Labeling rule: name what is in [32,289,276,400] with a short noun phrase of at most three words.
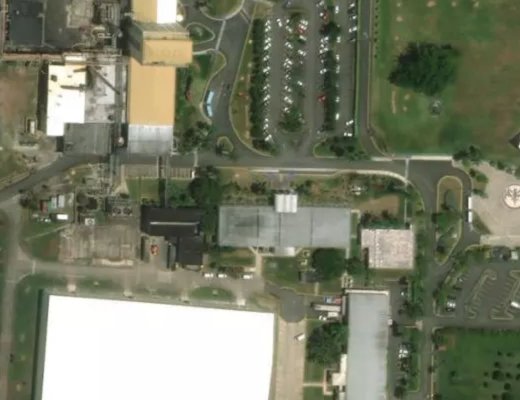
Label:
warehouse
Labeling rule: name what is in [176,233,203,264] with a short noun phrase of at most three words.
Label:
building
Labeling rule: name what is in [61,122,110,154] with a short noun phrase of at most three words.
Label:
building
